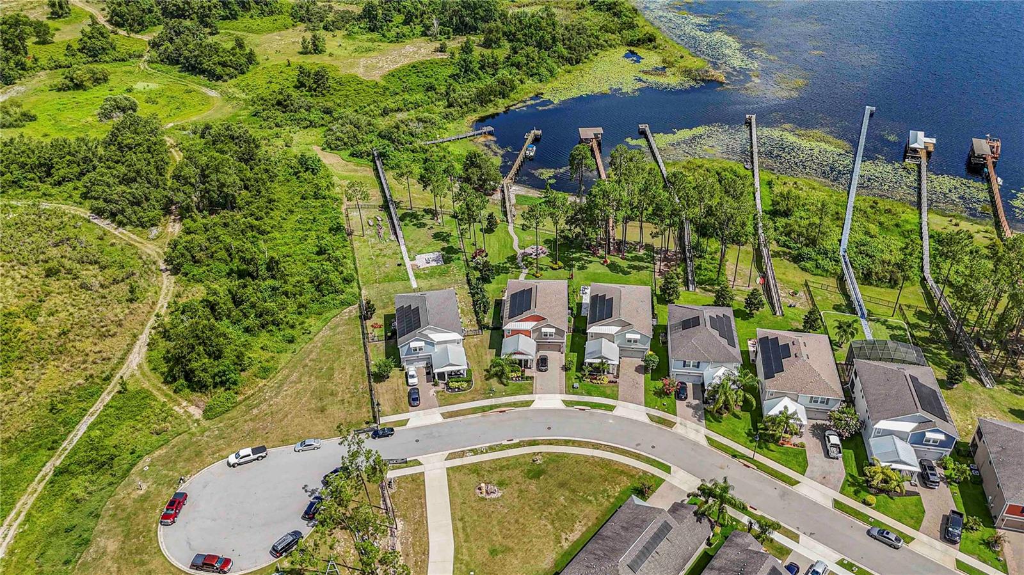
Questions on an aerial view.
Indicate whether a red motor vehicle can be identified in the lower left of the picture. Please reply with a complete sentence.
Yes, a red motor vehicle can be seen in the lower left of the picture.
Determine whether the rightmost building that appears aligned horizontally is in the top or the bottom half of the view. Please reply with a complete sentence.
The top half of the photo is where the rightmost building that appears aligned horizontally is.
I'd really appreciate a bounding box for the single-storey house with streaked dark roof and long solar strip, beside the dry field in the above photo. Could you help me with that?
[559,497,711,575]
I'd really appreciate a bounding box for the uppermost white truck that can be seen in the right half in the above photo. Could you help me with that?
[823,430,844,457]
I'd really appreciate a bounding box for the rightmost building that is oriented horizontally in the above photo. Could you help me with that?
[966,141,1013,161]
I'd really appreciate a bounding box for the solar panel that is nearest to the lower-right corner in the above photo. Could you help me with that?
[910,375,949,423]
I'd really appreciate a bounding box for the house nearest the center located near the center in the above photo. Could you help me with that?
[501,279,567,370]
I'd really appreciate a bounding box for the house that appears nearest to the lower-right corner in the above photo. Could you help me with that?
[961,417,1024,533]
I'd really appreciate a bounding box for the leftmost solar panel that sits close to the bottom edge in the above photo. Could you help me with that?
[627,521,672,574]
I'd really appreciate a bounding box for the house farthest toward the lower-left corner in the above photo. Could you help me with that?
[392,288,468,384]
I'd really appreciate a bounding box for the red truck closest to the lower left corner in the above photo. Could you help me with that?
[160,491,188,524]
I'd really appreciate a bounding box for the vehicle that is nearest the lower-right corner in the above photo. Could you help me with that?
[944,509,964,544]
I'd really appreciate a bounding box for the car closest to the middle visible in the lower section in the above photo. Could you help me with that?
[537,353,549,372]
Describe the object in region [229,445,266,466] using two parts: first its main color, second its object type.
white truck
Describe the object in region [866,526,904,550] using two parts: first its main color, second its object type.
gray car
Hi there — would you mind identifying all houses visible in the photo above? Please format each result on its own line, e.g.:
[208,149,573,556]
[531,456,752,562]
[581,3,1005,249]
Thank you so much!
[584,282,652,374]
[961,417,1024,533]
[700,534,782,575]
[665,303,742,401]
[392,288,468,384]
[848,358,959,483]
[501,279,567,370]
[559,497,711,575]
[752,329,842,434]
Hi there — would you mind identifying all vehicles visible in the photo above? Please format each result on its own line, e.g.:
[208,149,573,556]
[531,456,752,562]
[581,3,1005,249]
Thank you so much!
[160,491,188,524]
[408,387,420,407]
[537,353,549,372]
[188,553,234,574]
[806,555,832,575]
[919,461,942,486]
[268,531,304,558]
[866,526,904,550]
[229,445,266,466]
[676,381,688,401]
[293,438,323,453]
[406,367,418,385]
[368,425,397,441]
[823,430,844,457]
[783,557,802,575]
[299,495,327,523]
[944,509,964,544]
